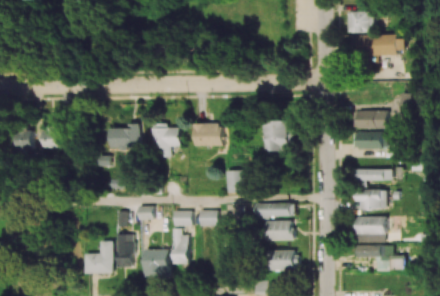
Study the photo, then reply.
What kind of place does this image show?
residential area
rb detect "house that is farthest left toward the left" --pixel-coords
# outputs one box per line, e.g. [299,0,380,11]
[12,130,36,148]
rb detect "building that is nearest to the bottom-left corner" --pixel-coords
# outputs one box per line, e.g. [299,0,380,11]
[84,242,114,275]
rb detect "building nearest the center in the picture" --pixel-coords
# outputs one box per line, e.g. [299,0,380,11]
[192,124,224,148]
